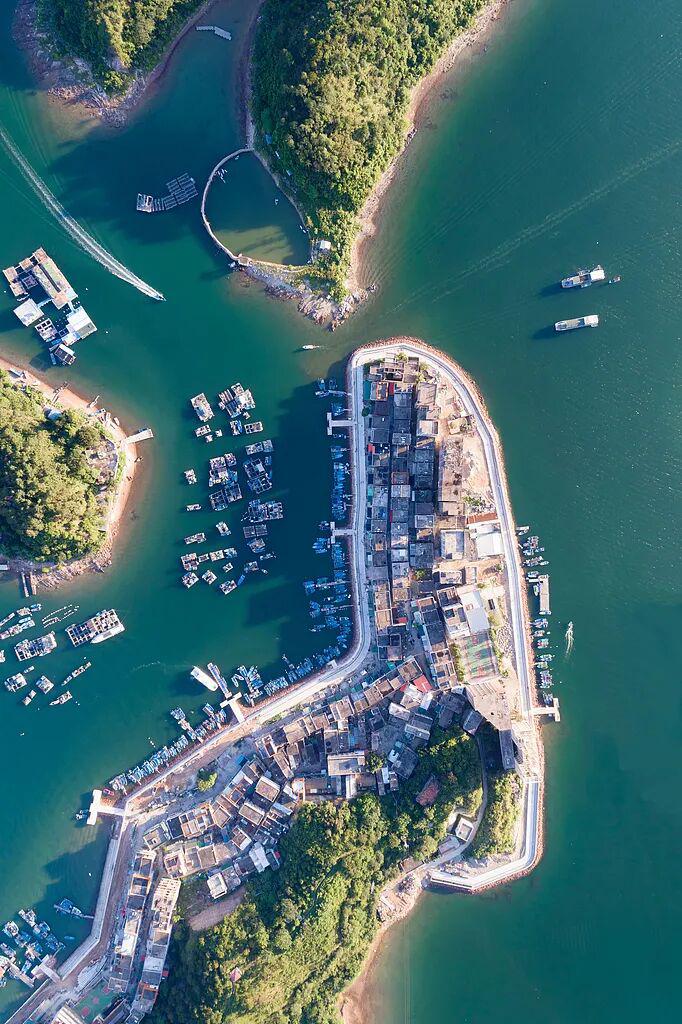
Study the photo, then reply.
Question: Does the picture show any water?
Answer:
Yes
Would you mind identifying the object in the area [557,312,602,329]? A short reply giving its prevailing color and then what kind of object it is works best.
white ship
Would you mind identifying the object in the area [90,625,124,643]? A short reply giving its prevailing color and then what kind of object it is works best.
white boat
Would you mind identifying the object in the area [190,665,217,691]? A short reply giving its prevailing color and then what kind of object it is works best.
white ship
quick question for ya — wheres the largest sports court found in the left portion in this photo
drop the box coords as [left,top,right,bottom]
[79,979,120,1022]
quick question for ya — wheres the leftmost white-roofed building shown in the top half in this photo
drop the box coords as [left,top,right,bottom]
[11,298,43,326]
